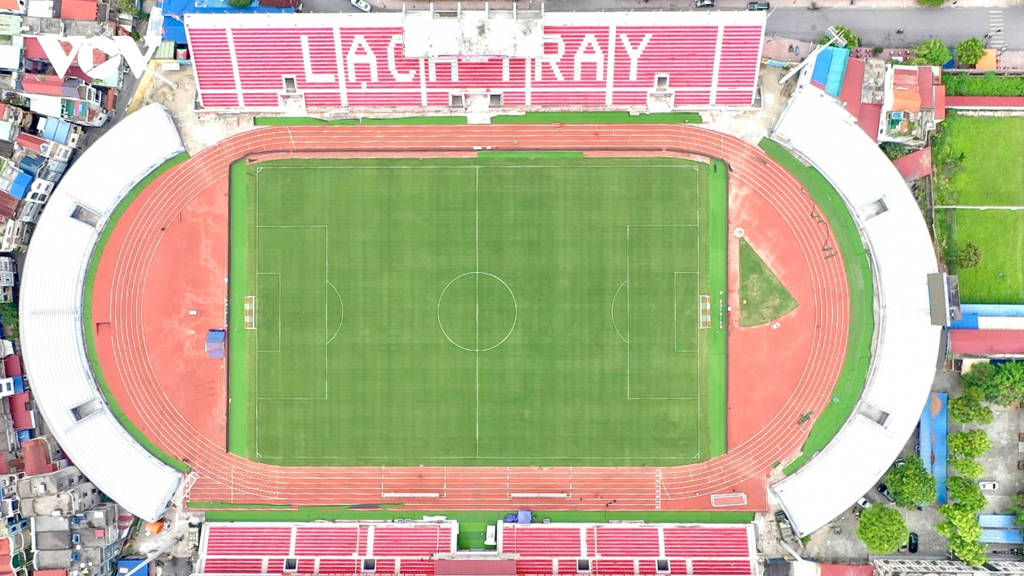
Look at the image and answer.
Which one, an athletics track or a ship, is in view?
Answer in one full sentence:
It is an athletics track that can be seen here.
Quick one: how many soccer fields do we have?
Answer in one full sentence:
I count just 1 soccer field.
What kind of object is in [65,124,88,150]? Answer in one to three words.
house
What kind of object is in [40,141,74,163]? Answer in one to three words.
house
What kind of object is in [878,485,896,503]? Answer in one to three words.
car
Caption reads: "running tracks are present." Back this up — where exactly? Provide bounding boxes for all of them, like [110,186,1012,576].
[92,124,851,510]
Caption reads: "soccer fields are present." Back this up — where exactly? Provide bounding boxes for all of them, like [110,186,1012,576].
[248,158,710,466]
